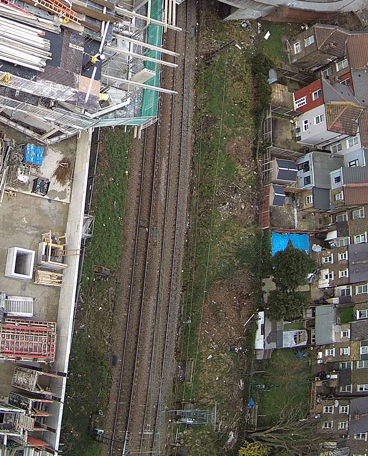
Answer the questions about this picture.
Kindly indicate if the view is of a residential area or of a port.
residential area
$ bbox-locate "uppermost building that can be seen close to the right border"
[289,25,368,82]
